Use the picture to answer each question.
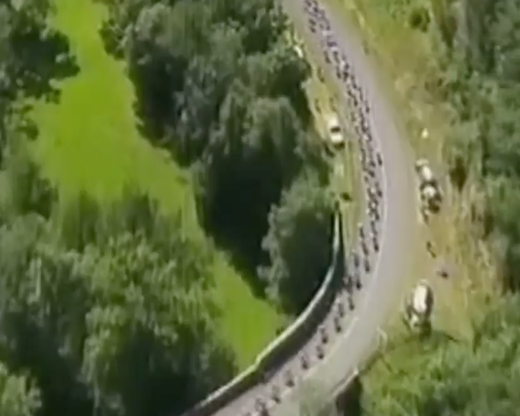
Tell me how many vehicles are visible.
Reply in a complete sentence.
The photo contains 3 vehicles.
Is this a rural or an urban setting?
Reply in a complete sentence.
The area is rural.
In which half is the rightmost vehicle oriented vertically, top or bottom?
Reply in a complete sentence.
Seen from above, the rightmost vehicle oriented vertically lies in the bottom half of the view.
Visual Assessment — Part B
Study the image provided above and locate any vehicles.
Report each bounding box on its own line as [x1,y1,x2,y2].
[409,283,433,328]
[324,119,346,142]
[416,180,446,210]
